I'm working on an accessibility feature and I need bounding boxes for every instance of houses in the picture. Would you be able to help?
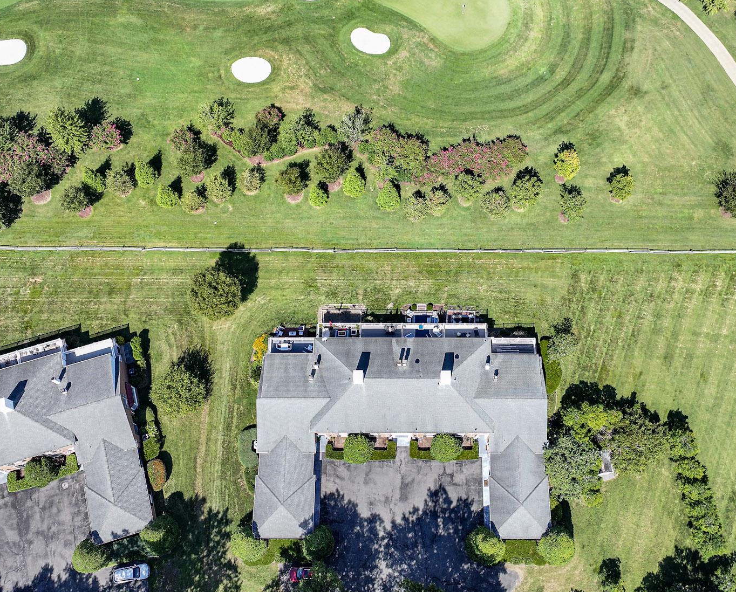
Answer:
[253,322,553,538]
[0,338,158,545]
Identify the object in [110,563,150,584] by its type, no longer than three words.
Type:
car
